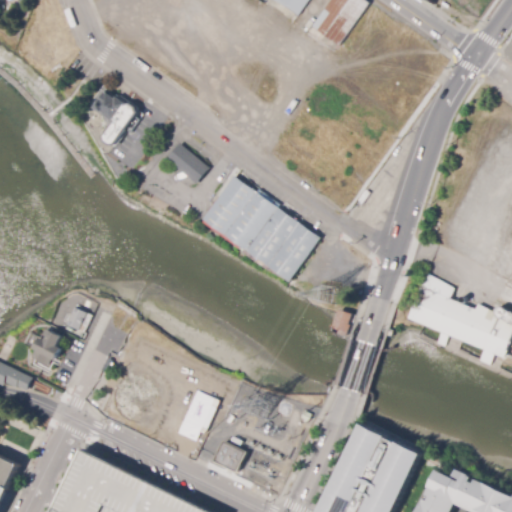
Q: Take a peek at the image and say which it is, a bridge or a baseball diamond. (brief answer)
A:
bridge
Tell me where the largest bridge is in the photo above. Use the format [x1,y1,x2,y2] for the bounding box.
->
[332,298,395,410]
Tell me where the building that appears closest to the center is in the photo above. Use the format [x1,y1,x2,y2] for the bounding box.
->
[203,178,323,281]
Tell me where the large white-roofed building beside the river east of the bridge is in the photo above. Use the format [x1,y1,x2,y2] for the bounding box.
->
[408,275,512,365]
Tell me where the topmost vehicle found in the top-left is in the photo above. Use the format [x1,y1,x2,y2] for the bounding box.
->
[64,7,76,26]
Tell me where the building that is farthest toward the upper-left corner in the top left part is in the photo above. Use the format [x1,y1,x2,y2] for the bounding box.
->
[93,91,128,119]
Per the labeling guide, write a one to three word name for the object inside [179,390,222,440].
building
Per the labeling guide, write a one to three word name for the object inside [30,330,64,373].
house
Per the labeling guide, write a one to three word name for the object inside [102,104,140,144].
house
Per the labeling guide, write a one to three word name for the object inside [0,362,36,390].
shed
